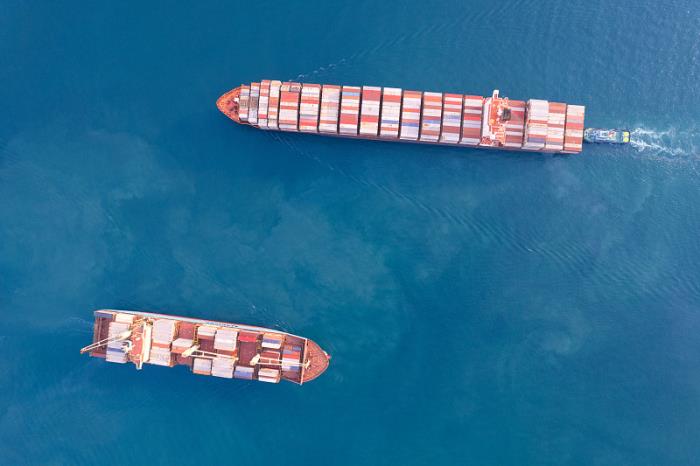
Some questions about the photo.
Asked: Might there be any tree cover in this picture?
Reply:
No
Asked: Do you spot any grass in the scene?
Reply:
No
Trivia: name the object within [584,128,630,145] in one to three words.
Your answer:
boat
